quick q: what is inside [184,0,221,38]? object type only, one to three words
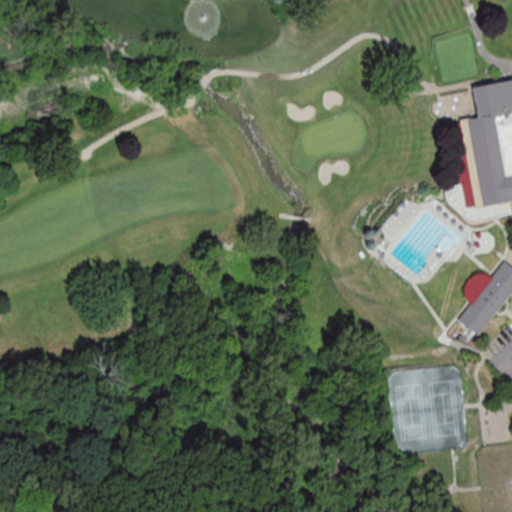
fountain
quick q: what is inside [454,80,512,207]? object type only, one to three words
building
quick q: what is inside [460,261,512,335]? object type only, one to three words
building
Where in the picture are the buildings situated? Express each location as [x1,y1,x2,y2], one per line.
[454,80,512,207]
[460,261,512,335]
